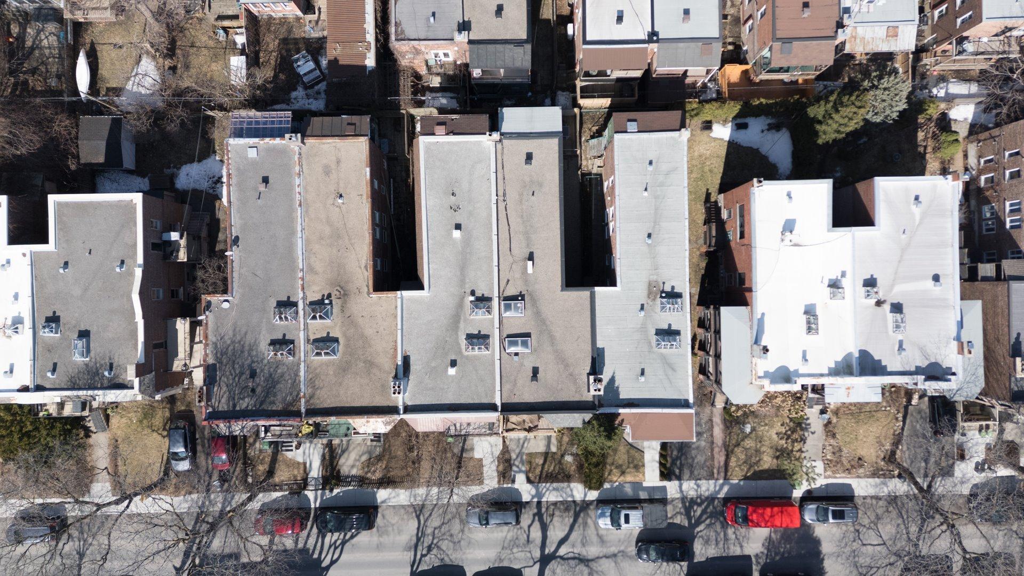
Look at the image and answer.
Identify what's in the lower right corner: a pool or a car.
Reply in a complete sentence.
The feature located in the lower right corner is a car.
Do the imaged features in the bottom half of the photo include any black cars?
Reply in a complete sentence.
Yes, a black car shows up in the bottom half of the photo.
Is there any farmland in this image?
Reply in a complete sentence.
No, there is no farmland in the image.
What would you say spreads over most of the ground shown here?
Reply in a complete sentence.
The largest share of the image is taken up by buildings.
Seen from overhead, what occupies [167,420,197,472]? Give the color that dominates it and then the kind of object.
black car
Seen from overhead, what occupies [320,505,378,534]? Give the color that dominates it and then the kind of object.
black car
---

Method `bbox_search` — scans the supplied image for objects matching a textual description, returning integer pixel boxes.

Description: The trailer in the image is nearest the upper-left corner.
[287,45,325,91]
